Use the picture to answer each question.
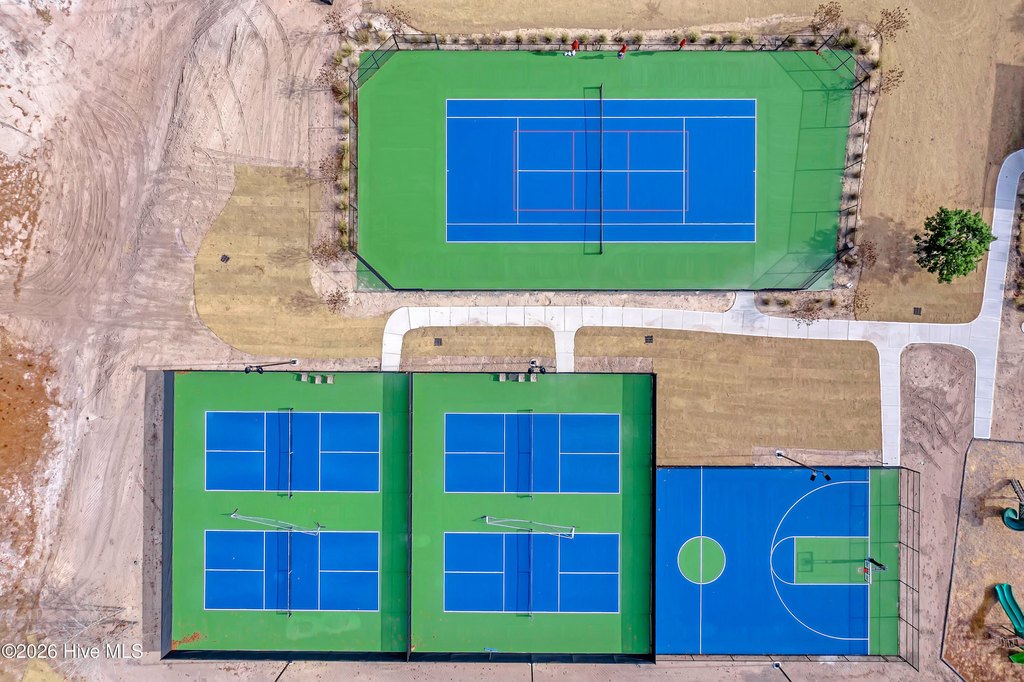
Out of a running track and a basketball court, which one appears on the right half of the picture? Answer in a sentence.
Looking on the right half of the picture, you will find a basketball court.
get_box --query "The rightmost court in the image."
[657,467,899,656]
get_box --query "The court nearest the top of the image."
[356,51,856,291]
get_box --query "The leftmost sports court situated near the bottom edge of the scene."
[172,510,408,653]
